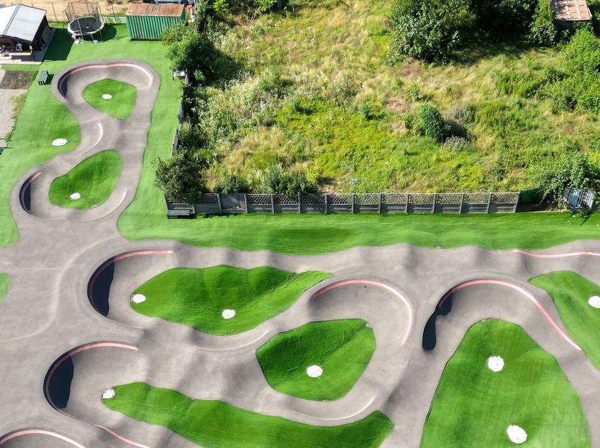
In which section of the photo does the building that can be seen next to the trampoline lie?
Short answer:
top left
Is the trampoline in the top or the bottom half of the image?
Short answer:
top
